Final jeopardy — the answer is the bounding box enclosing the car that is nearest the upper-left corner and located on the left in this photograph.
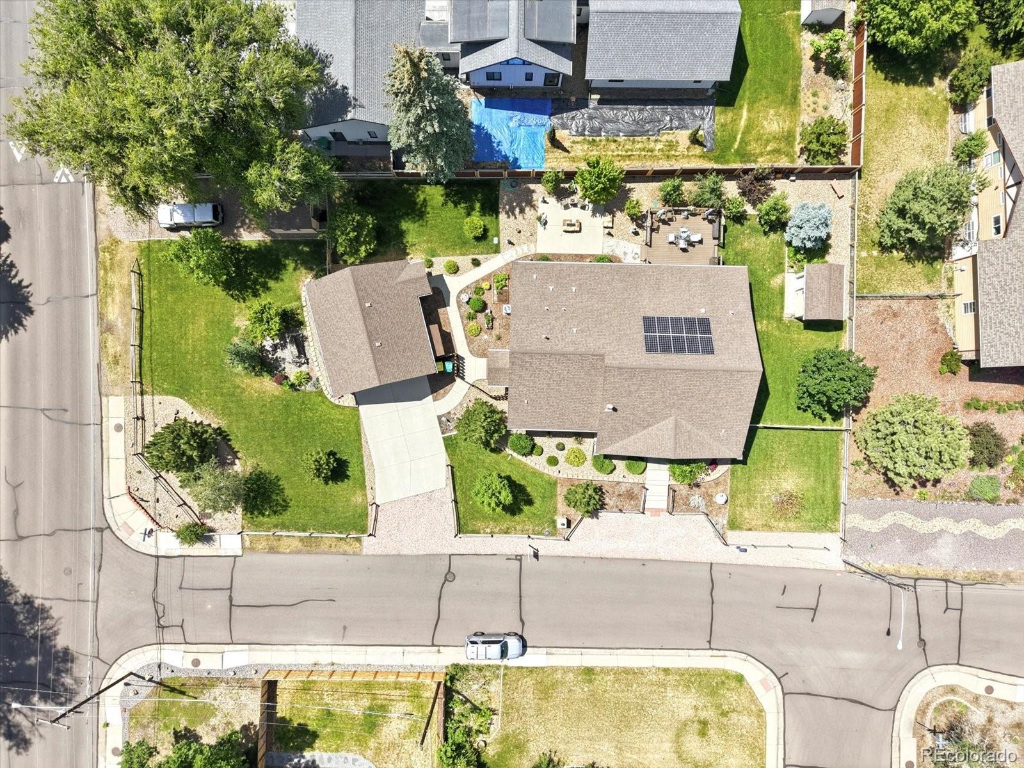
[162,202,228,231]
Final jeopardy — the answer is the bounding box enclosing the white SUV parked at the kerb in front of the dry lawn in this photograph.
[464,632,524,664]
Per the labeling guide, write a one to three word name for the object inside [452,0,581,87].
house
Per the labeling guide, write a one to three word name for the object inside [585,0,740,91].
barn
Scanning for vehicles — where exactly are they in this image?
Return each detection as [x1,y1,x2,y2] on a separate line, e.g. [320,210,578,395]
[464,632,524,664]
[162,202,228,231]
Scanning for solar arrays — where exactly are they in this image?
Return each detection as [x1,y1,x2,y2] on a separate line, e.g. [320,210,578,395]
[643,315,714,353]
